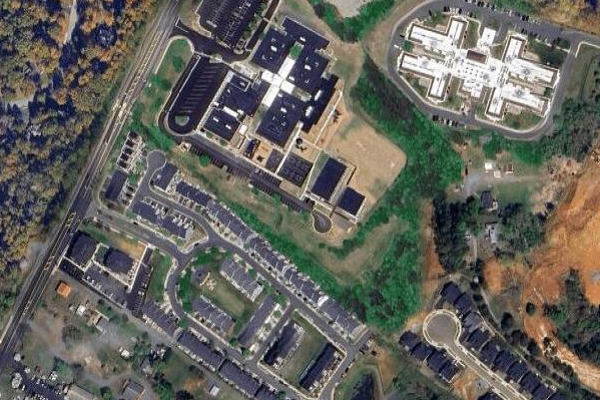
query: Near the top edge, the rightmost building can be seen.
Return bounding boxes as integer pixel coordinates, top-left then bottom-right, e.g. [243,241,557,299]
[400,18,558,114]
